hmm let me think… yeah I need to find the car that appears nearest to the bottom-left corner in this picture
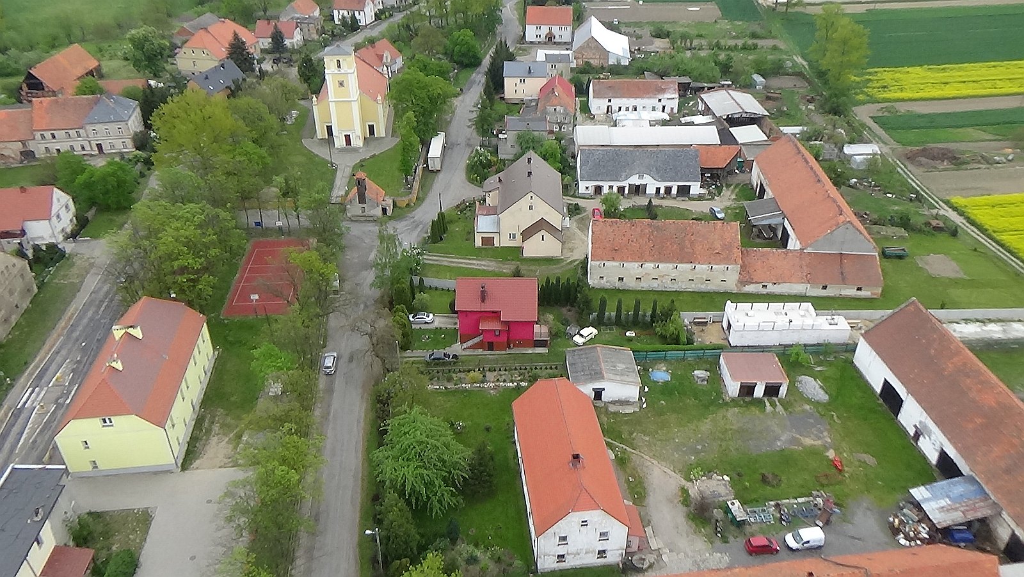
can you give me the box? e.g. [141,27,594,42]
[323,355,338,376]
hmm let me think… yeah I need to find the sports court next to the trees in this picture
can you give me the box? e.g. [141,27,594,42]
[222,237,312,315]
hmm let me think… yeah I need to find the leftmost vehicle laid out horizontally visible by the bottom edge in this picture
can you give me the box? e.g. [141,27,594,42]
[744,537,782,554]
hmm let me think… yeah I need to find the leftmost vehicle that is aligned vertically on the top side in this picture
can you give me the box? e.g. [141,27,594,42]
[428,127,449,168]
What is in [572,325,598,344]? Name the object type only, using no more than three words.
car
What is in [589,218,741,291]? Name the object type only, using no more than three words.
barn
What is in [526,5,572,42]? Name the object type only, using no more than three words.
house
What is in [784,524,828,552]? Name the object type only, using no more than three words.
vehicle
